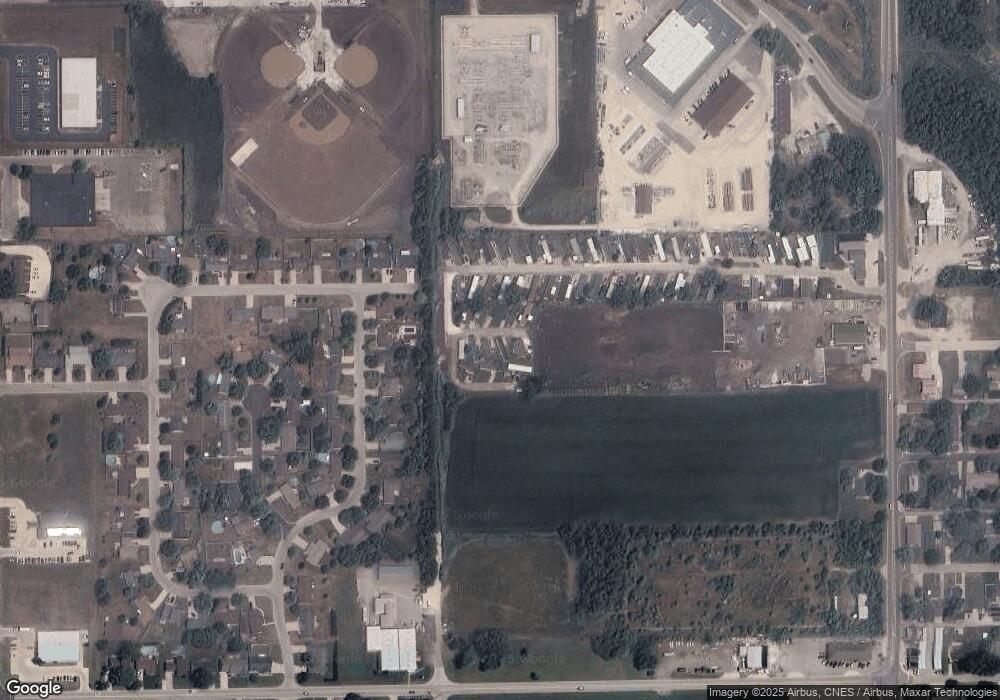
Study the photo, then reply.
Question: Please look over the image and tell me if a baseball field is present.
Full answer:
Yes, there is a baseball field in the image.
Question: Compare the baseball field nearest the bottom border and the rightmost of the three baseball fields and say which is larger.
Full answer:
The baseball field nearest the bottom border is bigger than the rightmost of the three baseball fields.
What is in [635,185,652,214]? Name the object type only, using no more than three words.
shed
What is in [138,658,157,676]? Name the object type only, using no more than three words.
house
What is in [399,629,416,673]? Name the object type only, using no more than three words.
building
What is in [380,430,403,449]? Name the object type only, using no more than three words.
house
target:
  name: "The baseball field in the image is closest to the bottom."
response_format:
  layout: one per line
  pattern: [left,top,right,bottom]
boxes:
[237,85,403,226]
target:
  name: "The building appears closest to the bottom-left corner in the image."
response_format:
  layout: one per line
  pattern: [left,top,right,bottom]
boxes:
[37,632,79,664]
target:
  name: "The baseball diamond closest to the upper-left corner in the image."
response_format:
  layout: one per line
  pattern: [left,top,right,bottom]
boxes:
[221,6,309,127]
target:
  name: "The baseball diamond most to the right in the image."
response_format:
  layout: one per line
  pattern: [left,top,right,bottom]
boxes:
[331,9,416,125]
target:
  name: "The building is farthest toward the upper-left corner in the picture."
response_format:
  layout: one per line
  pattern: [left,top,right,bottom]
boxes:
[62,58,97,127]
